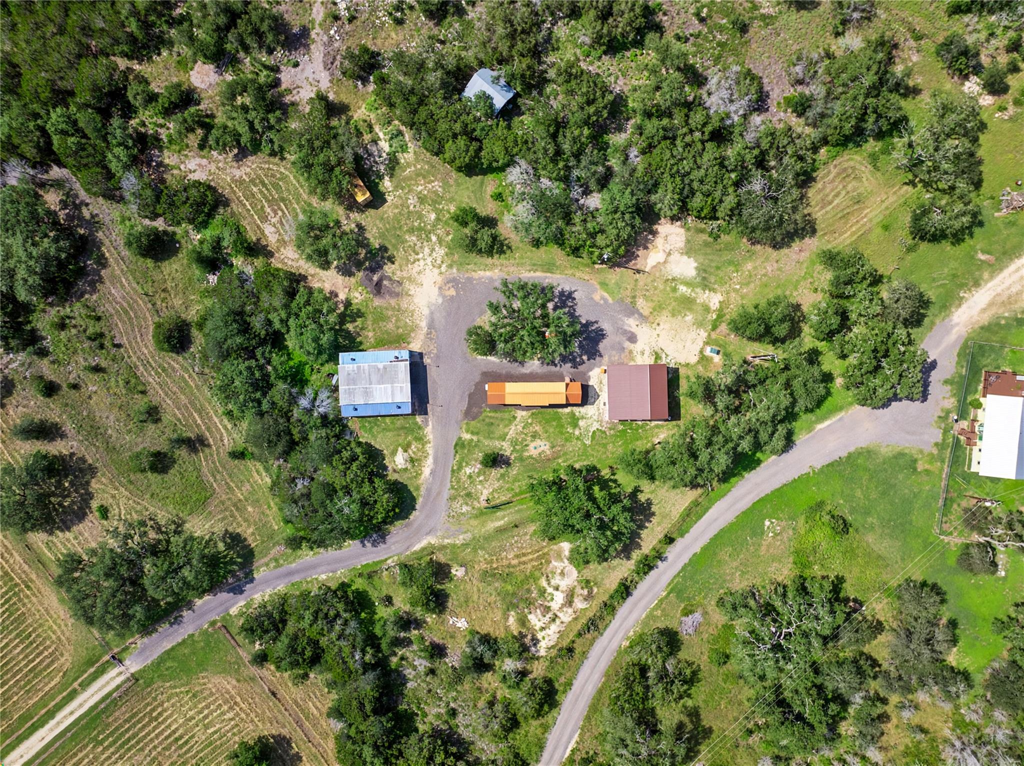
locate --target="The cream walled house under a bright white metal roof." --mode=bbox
[961,395,1024,480]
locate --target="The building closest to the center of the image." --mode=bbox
[487,382,582,407]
